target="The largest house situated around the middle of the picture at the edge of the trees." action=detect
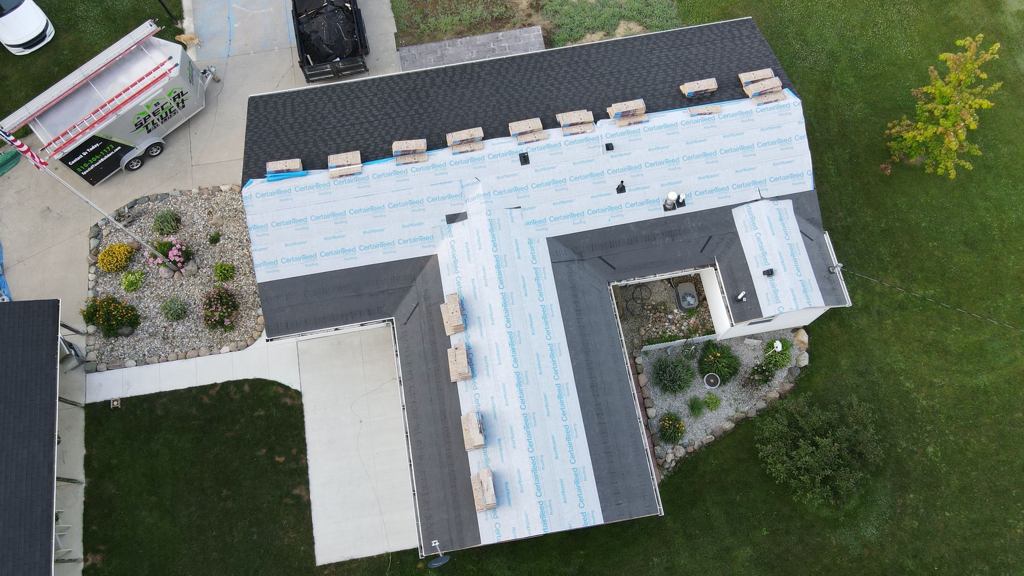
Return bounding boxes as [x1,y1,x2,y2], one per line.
[240,15,858,558]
